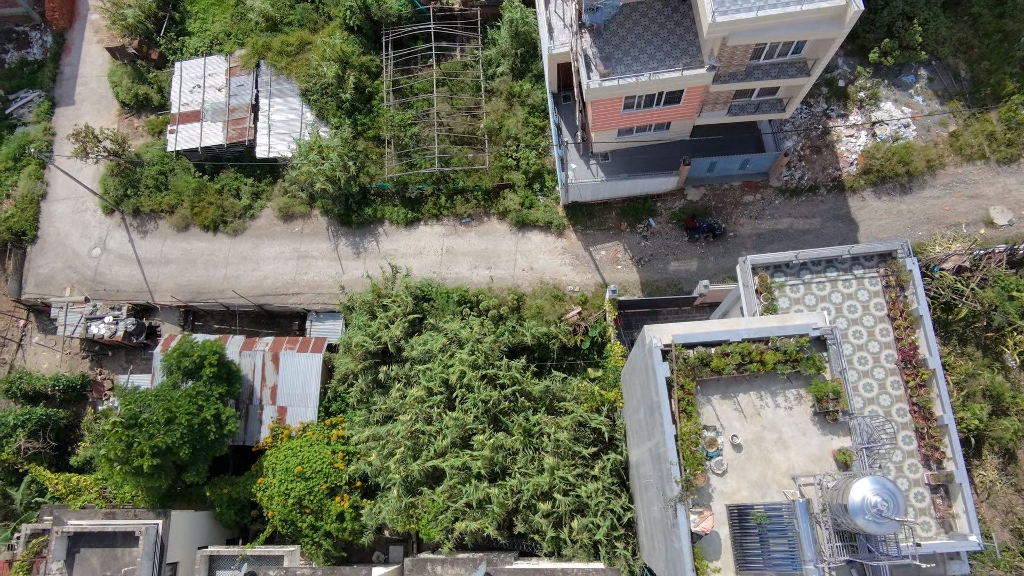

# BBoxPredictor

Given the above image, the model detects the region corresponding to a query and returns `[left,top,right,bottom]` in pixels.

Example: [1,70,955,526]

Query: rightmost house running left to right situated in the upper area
[538,0,862,151]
